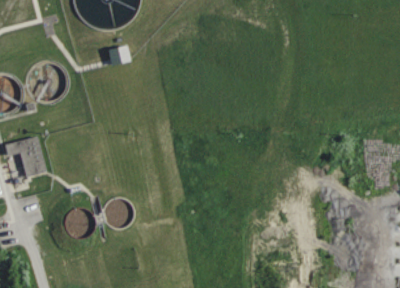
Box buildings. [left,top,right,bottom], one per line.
[4,136,46,178]
[104,44,131,66]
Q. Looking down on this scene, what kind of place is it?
industrial area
